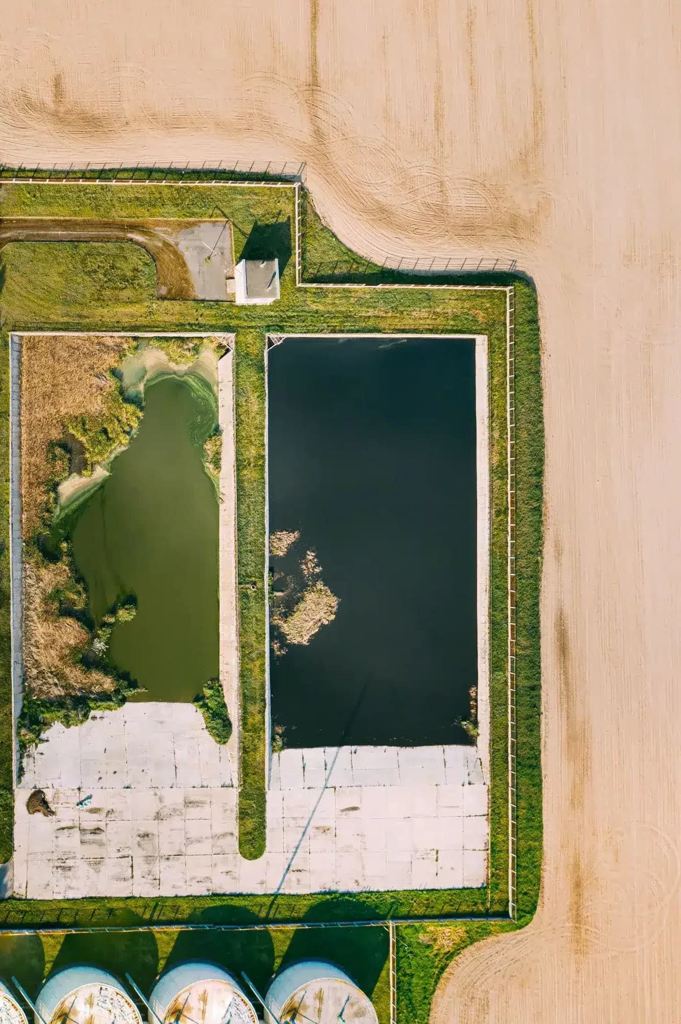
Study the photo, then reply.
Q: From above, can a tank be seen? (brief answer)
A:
Yes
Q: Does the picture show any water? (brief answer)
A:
Yes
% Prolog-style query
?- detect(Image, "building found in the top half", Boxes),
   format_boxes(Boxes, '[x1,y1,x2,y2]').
[235,258,280,305]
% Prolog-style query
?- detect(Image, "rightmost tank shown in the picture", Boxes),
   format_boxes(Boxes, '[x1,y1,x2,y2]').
[266,960,376,1024]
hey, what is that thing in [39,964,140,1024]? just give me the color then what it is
white storage tank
